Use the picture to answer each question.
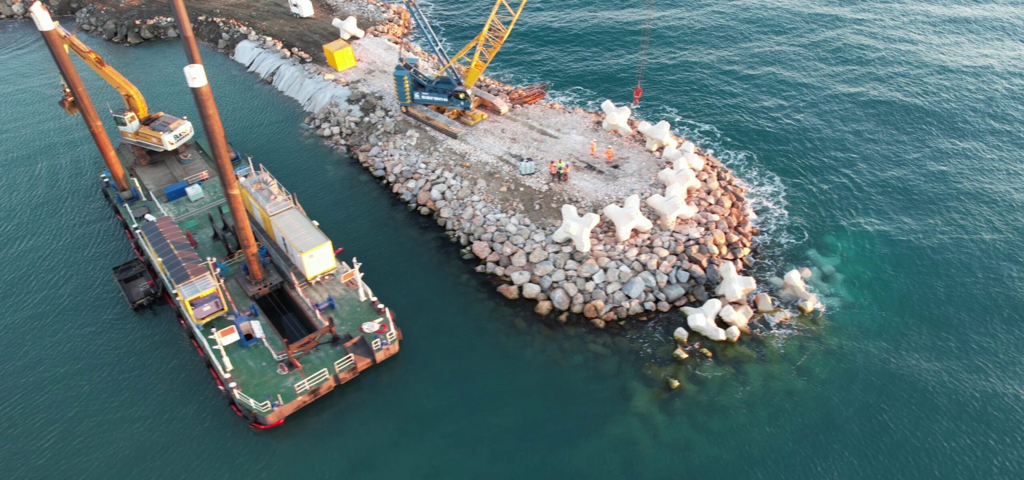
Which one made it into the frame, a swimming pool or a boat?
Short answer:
boat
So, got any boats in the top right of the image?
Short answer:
No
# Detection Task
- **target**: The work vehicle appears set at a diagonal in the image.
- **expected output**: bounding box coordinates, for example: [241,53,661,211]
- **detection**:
[49,11,189,167]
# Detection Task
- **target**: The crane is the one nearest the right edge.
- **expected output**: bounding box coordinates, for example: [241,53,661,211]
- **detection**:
[382,0,526,139]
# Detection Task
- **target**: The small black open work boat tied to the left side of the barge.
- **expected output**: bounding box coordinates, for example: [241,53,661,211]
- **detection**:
[113,253,164,315]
